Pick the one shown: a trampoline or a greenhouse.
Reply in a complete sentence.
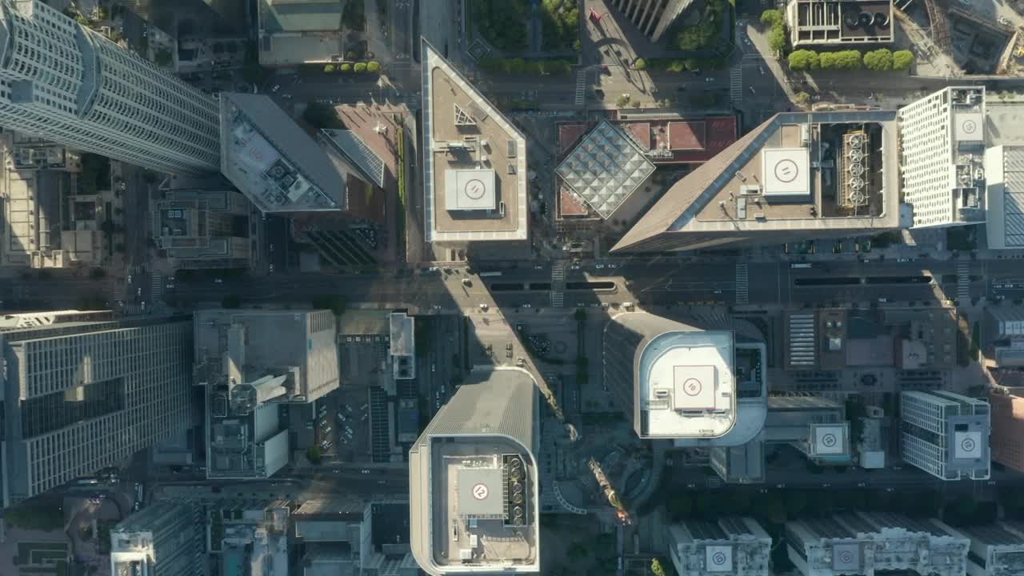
There is a greenhouse in the scene.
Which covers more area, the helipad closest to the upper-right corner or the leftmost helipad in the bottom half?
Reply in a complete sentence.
The helipad closest to the upper-right corner is smaller than the leftmost helipad in the bottom half.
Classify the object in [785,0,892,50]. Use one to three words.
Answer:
building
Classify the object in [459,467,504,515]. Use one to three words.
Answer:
helipad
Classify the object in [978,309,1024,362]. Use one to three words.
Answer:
building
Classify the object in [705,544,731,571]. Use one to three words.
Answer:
helipad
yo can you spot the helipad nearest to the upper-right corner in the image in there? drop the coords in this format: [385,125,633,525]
[954,113,983,141]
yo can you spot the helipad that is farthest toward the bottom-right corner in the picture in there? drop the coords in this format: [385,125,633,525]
[954,432,981,458]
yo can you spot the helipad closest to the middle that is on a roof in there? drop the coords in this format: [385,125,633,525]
[446,170,496,210]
